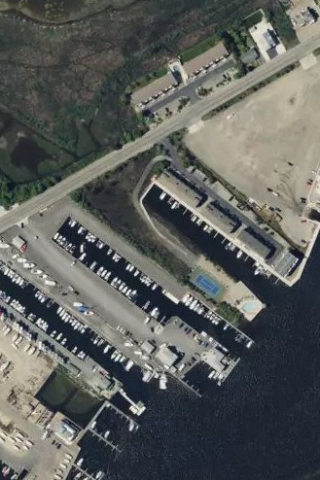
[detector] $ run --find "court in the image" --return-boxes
[189,270,225,303]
